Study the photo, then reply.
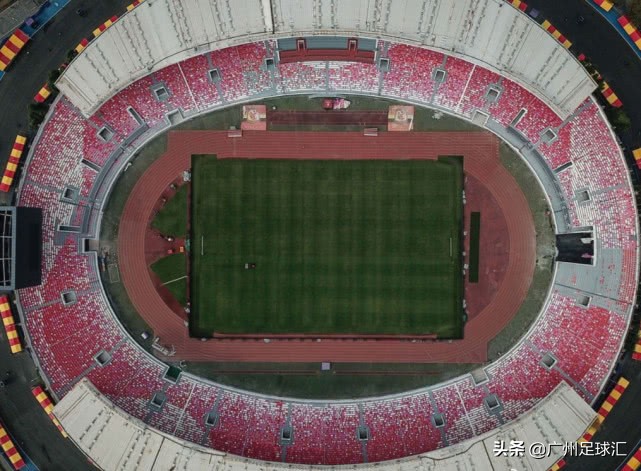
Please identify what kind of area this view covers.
sports ground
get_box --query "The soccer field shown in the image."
[190,154,464,339]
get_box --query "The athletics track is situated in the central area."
[118,131,536,363]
